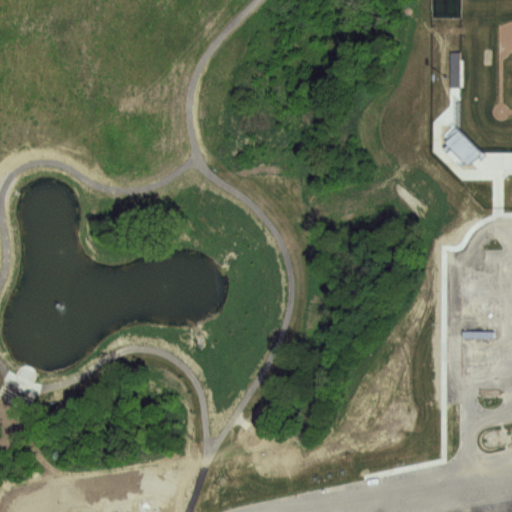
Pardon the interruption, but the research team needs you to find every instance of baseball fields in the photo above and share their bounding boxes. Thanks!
[462,0,512,151]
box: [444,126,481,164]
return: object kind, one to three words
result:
building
